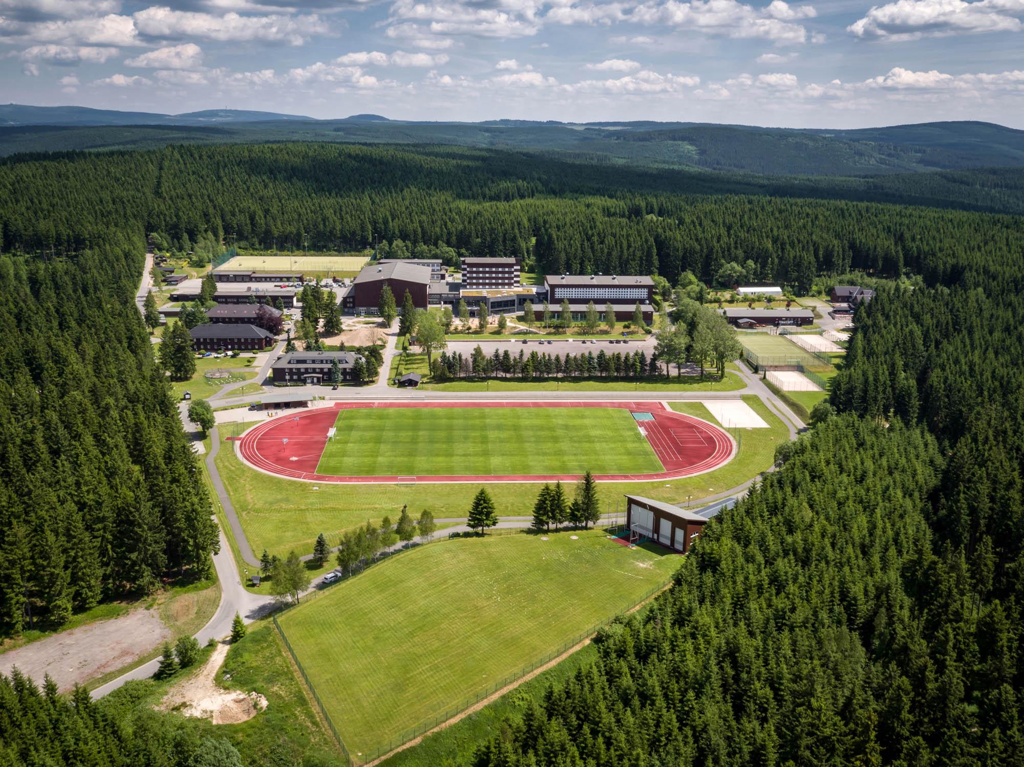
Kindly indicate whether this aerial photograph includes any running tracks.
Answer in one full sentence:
Yes, there is a running track in the image.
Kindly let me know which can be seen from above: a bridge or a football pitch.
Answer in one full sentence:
Looking from above, you can make out a football pitch.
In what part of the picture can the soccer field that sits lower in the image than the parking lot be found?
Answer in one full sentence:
The soccer field that sits lower in the image than the parking lot appears toward the center of the photo.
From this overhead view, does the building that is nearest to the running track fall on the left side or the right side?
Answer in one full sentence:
You can find the building that is nearest to the running track on the left side of the picture.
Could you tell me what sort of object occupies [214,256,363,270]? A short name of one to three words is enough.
sports field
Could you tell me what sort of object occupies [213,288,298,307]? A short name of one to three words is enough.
building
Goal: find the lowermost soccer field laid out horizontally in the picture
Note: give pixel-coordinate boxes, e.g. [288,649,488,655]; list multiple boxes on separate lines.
[316,408,665,475]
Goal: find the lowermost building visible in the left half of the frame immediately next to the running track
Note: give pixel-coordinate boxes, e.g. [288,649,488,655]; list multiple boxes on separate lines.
[259,388,313,410]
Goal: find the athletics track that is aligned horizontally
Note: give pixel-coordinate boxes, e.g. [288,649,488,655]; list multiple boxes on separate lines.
[240,406,731,482]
